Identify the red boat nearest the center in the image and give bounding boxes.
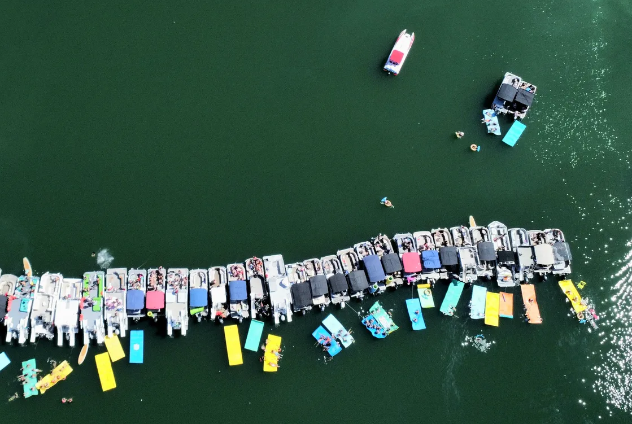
[395,234,422,281]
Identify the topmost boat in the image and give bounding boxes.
[382,30,415,78]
